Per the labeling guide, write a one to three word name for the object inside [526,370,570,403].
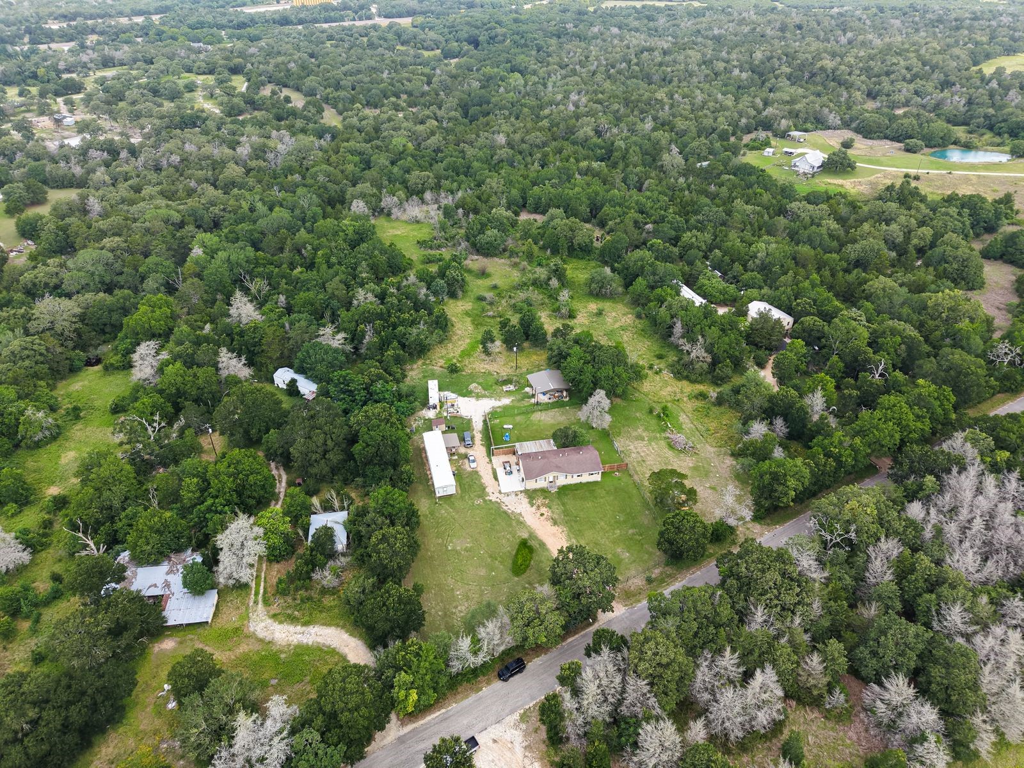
barn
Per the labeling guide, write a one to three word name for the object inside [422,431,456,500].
house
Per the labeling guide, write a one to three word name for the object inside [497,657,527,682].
car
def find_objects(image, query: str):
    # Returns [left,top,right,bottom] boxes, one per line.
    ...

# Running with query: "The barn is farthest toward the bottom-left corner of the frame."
[104,548,221,634]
